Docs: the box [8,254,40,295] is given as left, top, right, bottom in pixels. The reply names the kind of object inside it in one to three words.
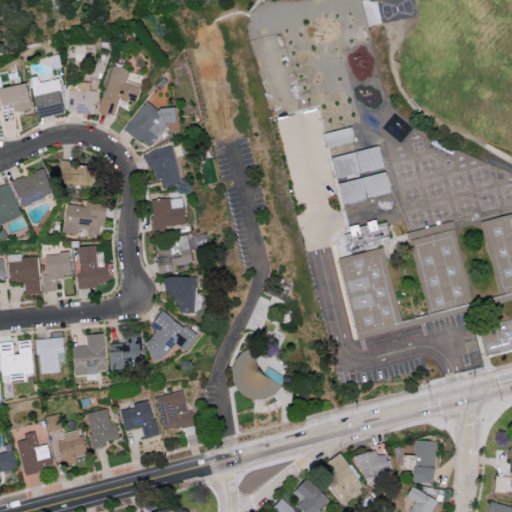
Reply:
house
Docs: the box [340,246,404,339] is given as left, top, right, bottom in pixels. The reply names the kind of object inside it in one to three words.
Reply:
building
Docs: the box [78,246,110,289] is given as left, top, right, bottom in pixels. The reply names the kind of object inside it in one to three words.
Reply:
house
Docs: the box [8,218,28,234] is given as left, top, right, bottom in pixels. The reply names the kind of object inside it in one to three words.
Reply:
swimming pool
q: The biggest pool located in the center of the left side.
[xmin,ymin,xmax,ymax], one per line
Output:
[28,204,50,224]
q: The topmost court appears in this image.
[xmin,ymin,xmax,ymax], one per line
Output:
[380,0,416,22]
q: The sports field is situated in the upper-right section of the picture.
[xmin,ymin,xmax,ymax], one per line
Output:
[397,0,512,156]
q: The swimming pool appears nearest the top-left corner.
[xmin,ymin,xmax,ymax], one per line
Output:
[31,64,52,76]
